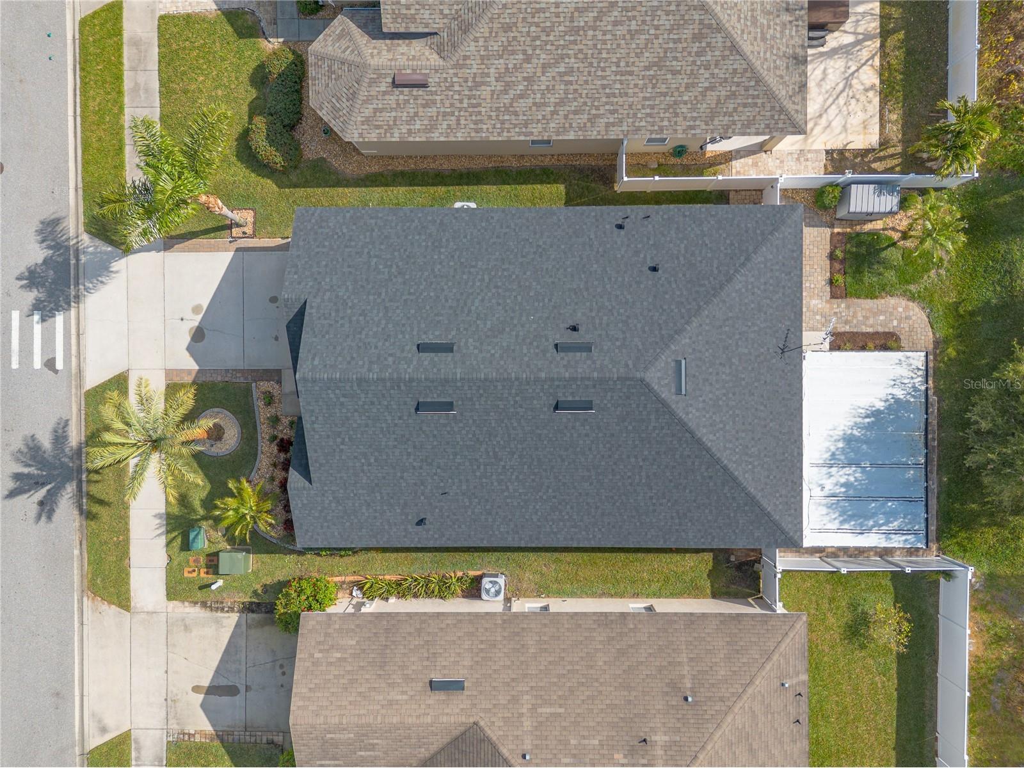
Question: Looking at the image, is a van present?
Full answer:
No, the photo shows no van.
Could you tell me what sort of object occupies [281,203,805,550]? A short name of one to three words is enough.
house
